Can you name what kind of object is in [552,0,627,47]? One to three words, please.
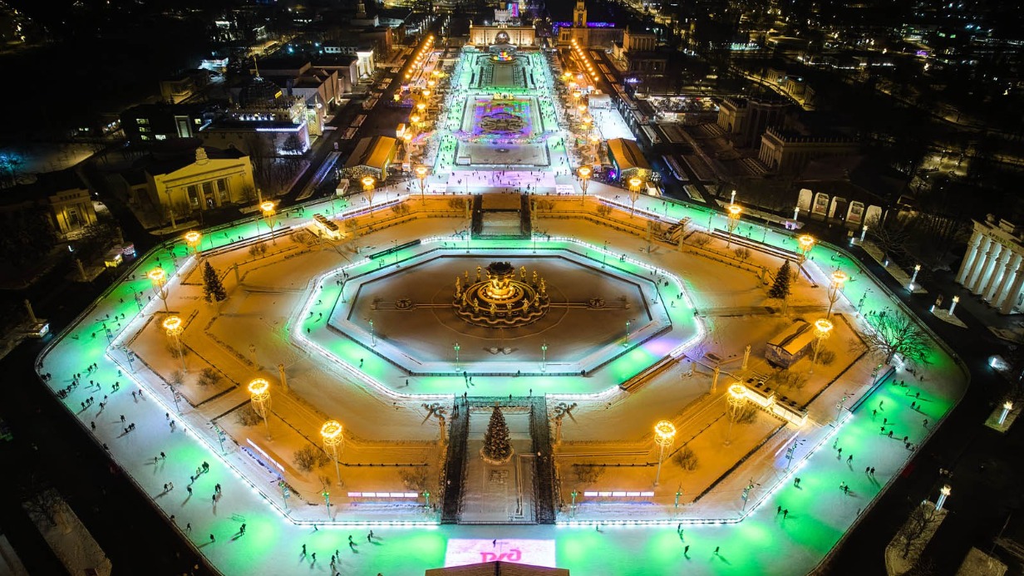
building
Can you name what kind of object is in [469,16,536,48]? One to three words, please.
building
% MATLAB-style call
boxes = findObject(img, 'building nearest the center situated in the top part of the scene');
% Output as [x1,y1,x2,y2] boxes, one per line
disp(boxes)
[482,188,521,211]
